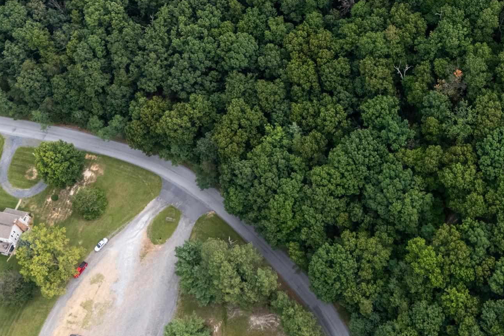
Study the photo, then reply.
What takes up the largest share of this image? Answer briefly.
trees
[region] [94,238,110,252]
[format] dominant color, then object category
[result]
white car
